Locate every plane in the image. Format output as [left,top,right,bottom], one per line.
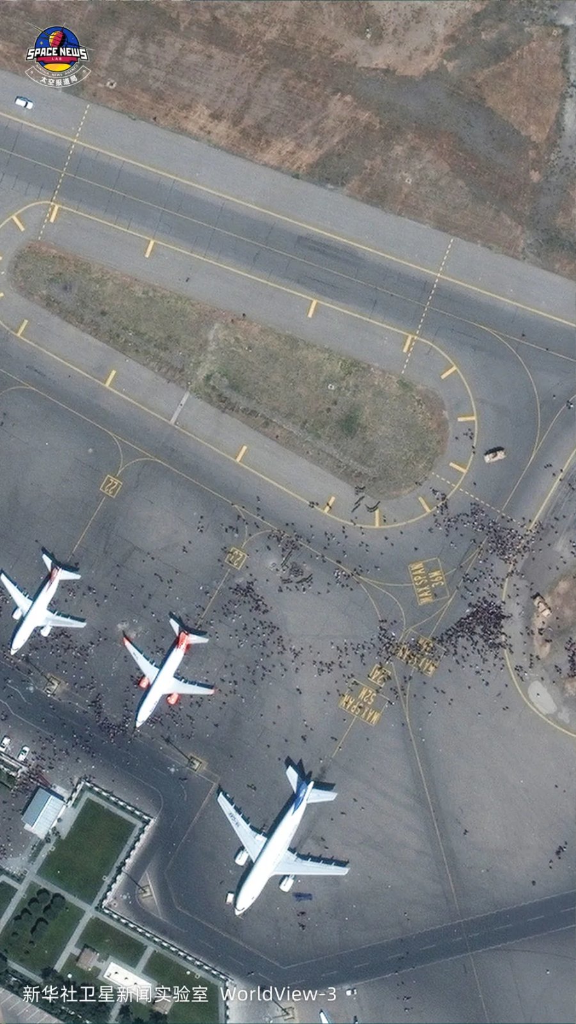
[316,1010,330,1024]
[3,552,84,654]
[219,766,348,916]
[122,616,213,728]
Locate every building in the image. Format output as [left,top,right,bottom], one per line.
[104,961,153,998]
[22,787,68,840]
[154,994,173,1014]
[77,948,97,970]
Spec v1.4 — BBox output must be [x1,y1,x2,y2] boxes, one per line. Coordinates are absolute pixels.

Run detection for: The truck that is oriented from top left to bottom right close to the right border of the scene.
[530,591,552,619]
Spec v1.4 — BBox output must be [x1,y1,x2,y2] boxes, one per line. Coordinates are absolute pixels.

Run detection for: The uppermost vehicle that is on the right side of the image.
[483,448,504,463]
